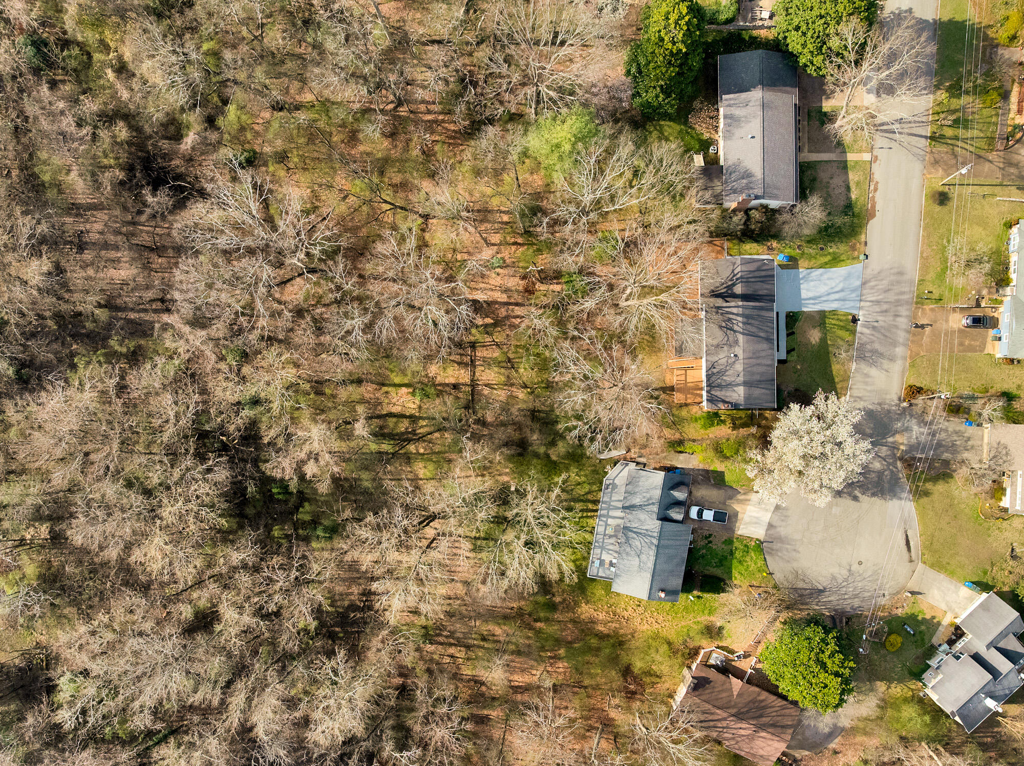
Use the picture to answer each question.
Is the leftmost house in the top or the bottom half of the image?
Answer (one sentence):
You can find the leftmost house in the bottom half.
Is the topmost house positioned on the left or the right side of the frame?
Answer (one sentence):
It is on the right.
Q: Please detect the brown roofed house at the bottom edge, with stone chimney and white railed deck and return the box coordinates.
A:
[664,638,795,764]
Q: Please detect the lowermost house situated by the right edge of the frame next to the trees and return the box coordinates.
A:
[913,590,1024,726]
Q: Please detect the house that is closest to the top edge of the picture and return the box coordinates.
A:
[691,49,798,214]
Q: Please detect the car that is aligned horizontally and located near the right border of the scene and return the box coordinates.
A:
[962,314,996,329]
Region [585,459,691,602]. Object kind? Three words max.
house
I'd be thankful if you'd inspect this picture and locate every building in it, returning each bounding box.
[691,49,798,214]
[980,424,1024,513]
[664,638,795,764]
[992,220,1024,358]
[913,590,1024,726]
[666,258,786,410]
[585,459,691,602]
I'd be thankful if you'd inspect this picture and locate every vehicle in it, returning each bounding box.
[962,314,996,329]
[688,506,729,524]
